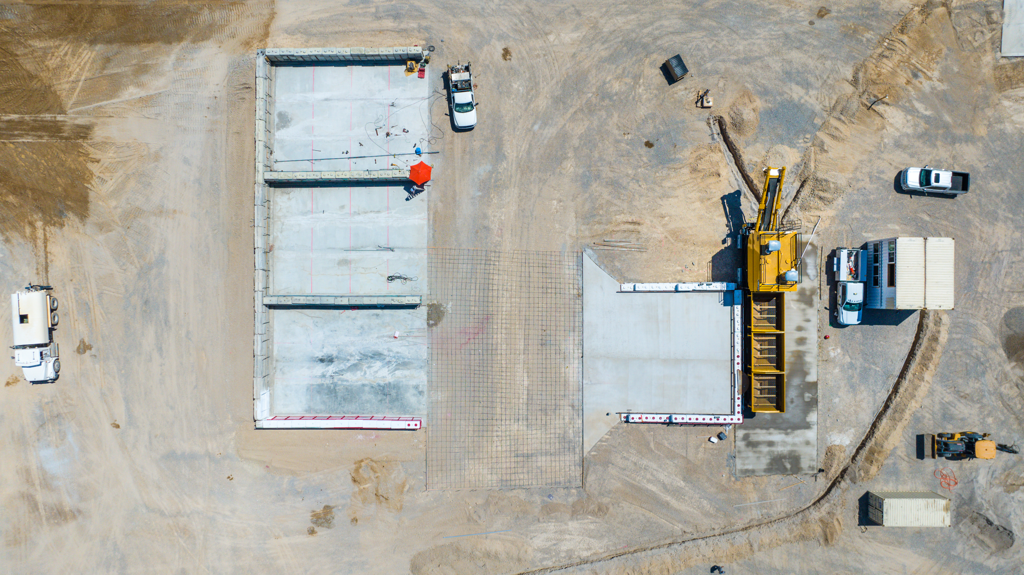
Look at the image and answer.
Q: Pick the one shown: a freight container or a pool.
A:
freight container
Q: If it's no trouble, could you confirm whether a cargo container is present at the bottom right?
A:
Yes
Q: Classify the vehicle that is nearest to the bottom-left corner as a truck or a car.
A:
truck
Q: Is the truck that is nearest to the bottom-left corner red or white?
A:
white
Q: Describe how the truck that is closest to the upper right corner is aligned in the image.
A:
from side to side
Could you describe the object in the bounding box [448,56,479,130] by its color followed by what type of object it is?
white truck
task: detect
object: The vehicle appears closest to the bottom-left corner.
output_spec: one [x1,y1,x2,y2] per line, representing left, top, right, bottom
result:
[11,281,62,384]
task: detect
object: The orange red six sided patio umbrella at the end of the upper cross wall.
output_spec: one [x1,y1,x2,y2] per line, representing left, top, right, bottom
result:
[409,161,432,185]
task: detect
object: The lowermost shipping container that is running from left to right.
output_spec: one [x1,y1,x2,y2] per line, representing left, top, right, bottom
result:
[868,490,951,527]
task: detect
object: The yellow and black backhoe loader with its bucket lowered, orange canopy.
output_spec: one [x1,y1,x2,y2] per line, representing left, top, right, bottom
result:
[927,431,1015,460]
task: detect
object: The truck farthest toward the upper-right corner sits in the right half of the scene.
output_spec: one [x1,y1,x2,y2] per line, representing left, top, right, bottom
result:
[897,162,972,194]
